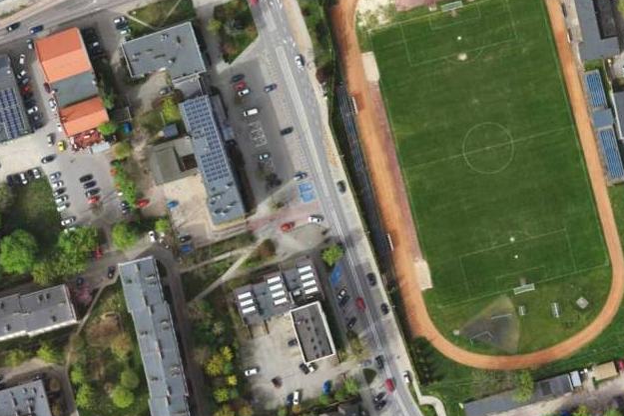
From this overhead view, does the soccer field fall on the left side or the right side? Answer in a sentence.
You can find the soccer field on the right side of the picture.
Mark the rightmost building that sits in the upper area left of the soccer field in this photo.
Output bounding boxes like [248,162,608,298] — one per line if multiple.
[177,94,246,228]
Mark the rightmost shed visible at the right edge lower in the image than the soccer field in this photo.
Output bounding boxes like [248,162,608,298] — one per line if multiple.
[592,360,617,382]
